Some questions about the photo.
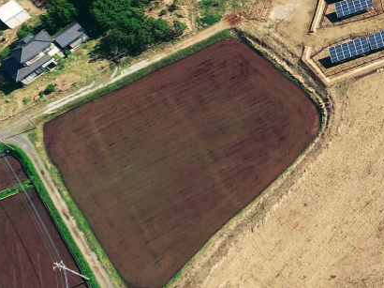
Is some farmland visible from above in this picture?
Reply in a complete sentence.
Yes, farmland can be seen from above here.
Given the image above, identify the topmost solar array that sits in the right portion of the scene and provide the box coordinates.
[334,0,375,19]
